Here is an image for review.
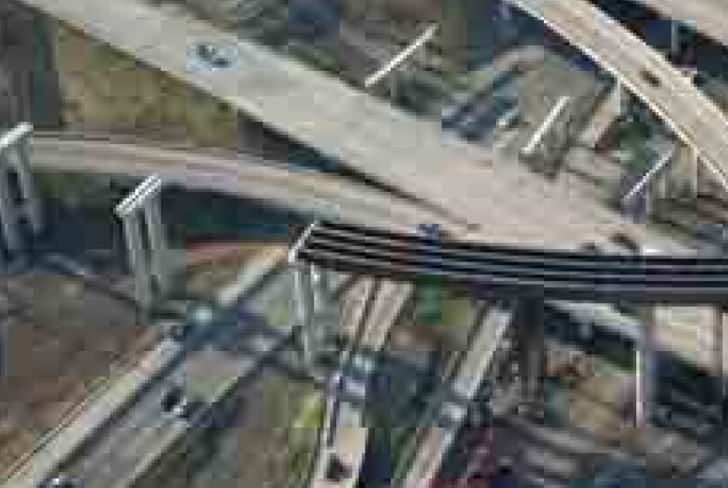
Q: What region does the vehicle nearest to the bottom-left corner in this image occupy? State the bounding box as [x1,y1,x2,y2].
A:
[45,469,76,488]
